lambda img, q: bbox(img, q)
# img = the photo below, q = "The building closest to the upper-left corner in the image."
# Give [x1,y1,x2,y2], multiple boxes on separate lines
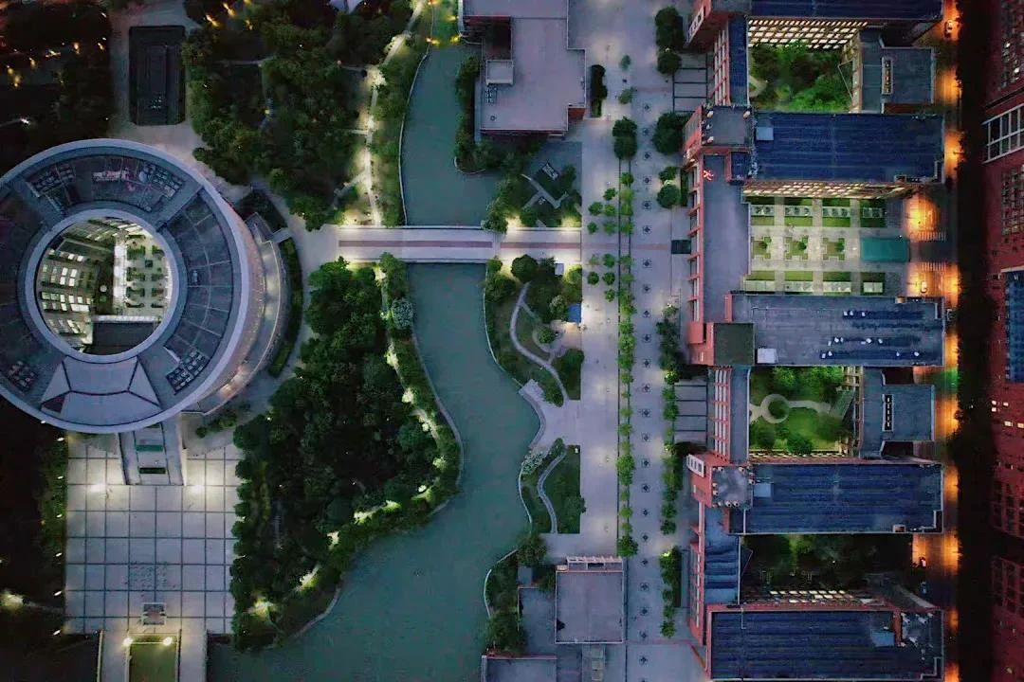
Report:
[129,25,193,130]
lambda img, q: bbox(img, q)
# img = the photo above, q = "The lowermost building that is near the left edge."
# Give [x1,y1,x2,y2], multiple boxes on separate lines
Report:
[0,140,294,432]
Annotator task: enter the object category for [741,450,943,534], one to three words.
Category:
building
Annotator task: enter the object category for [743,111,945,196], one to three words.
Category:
building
